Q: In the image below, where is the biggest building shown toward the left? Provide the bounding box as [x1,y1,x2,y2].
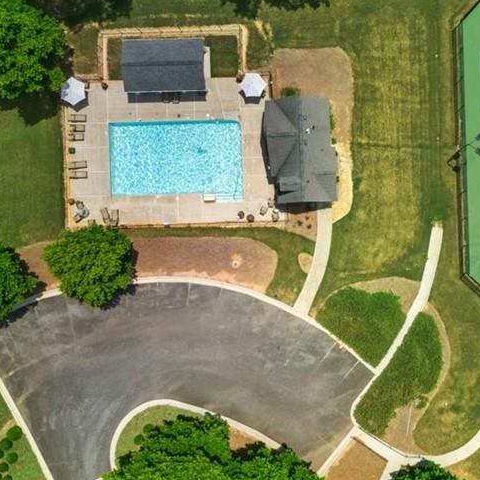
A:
[121,37,211,97]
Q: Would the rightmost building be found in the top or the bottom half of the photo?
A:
top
